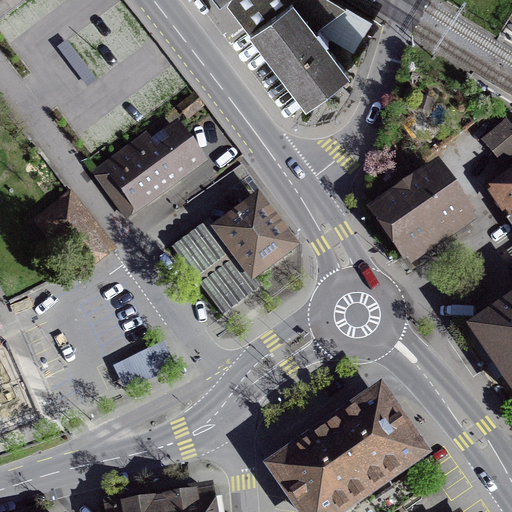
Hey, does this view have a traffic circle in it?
Yes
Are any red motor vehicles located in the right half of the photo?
Yes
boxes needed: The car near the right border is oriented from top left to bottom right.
[476,470,496,492]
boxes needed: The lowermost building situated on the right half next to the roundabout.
[264,379,432,512]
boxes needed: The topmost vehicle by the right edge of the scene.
[472,122,492,140]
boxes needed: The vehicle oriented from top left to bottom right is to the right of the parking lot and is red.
[358,263,380,288]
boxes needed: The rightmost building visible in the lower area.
[466,289,512,393]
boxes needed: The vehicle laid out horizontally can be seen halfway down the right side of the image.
[440,304,474,316]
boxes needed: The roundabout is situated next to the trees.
[308,266,407,364]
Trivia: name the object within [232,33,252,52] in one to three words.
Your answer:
car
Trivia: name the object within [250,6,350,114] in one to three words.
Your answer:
building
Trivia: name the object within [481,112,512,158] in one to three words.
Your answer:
house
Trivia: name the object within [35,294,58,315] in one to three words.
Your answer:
vehicle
